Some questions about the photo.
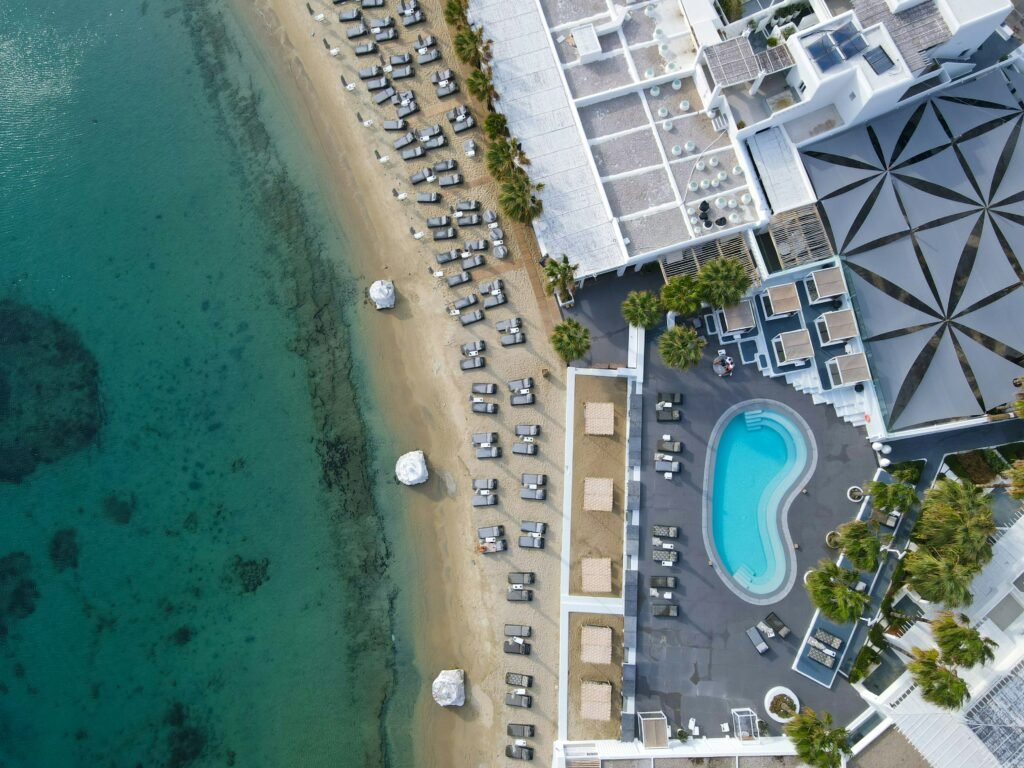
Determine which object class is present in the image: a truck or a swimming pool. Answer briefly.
swimming pool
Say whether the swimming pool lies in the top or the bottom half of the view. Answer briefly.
bottom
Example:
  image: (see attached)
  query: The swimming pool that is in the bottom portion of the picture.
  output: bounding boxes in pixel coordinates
[702,399,818,605]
